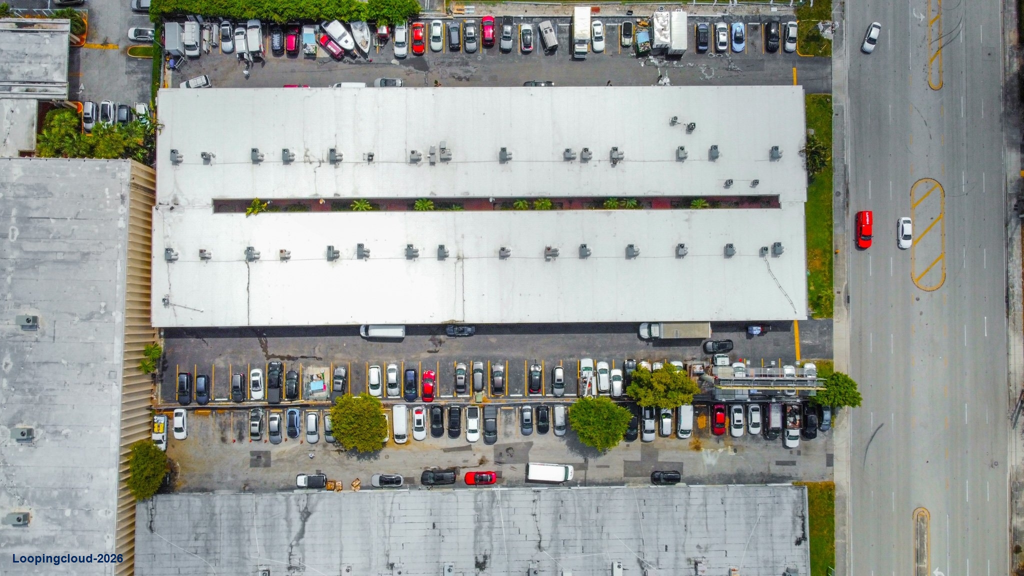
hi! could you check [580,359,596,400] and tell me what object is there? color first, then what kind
white vehicle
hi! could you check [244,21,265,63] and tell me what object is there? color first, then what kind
white truck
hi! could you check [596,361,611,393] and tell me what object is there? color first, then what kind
white car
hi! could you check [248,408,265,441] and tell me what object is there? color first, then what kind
gray car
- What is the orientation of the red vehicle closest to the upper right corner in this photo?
up and down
